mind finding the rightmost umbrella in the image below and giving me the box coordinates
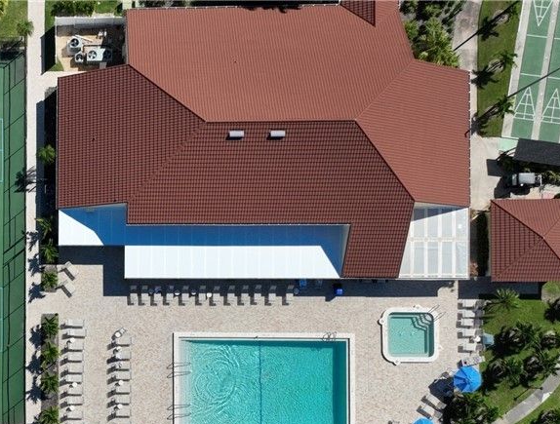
[450,364,479,394]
